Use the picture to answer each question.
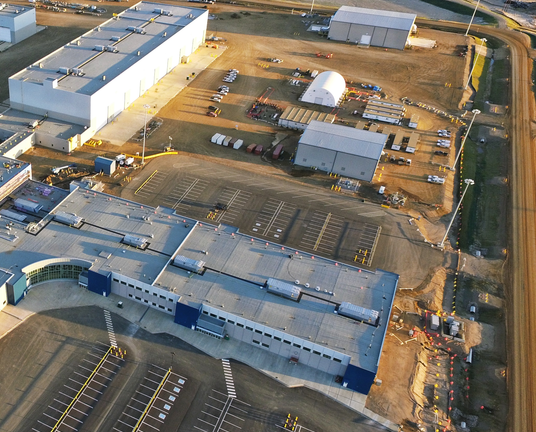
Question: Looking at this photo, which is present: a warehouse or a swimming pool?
warehouse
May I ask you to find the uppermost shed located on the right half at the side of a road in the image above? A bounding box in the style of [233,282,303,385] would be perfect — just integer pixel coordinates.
[327,6,417,49]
